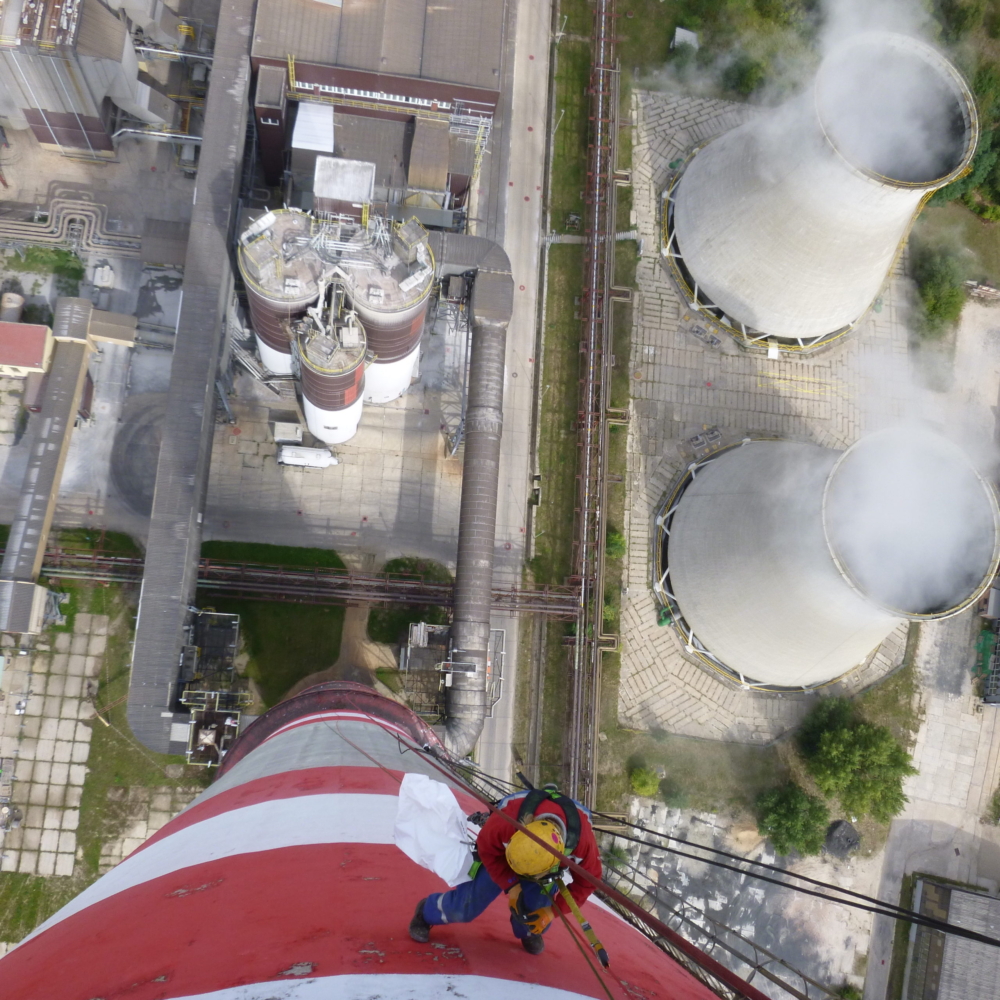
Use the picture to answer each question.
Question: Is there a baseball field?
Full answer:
No, the scene contains no baseball field.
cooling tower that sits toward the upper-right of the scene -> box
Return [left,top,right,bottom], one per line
[654,21,994,358]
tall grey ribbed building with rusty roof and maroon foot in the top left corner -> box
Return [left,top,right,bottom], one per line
[0,0,205,161]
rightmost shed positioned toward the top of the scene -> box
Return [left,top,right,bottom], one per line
[670,28,698,61]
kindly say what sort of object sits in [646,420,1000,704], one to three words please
cooling tower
